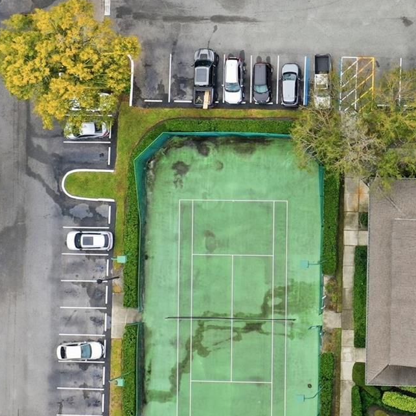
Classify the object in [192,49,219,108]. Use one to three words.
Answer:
truck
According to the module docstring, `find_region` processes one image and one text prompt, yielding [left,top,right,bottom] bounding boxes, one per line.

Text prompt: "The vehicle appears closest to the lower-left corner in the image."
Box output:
[56,340,105,363]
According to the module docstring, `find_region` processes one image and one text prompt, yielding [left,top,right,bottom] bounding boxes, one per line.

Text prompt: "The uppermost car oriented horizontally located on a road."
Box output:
[64,118,111,142]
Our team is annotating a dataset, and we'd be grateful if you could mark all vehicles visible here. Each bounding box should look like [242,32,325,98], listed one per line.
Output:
[64,118,111,142]
[310,54,333,110]
[66,229,114,253]
[56,340,105,363]
[250,62,273,105]
[221,57,245,105]
[278,63,302,107]
[192,49,219,108]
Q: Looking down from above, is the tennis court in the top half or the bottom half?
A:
bottom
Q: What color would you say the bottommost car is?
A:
white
